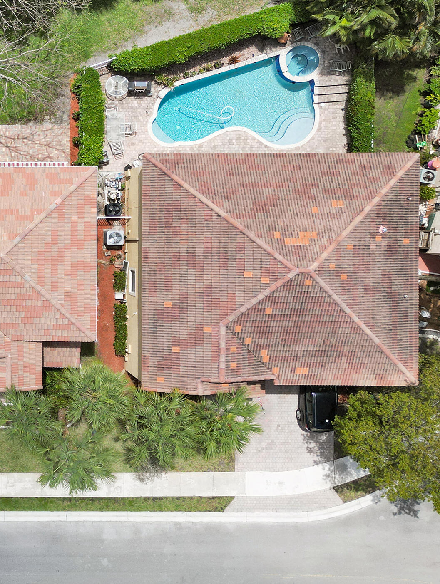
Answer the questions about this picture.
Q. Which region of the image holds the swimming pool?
top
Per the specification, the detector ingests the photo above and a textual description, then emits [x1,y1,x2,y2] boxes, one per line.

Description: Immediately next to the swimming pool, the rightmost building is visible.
[125,151,421,396]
